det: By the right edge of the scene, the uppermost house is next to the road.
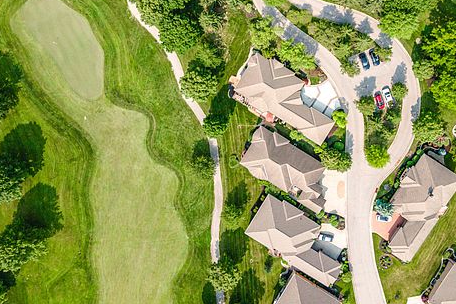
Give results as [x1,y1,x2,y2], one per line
[389,153,456,260]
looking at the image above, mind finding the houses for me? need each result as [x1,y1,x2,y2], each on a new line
[389,153,456,260]
[234,52,335,145]
[273,270,342,304]
[237,125,326,216]
[430,260,456,304]
[245,194,343,285]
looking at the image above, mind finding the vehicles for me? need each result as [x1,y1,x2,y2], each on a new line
[382,87,394,105]
[374,92,385,109]
[369,47,382,66]
[318,232,334,242]
[358,52,370,70]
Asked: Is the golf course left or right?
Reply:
left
